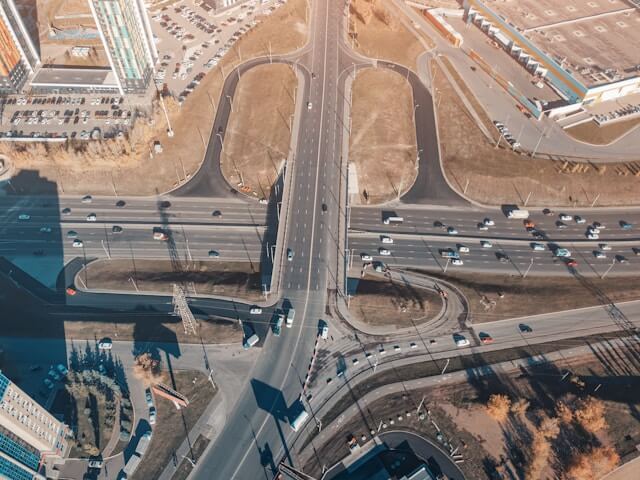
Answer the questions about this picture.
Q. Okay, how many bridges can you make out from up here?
1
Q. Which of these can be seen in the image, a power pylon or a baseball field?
power pylon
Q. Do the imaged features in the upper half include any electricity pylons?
No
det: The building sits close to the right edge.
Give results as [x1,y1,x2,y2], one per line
[457,0,640,101]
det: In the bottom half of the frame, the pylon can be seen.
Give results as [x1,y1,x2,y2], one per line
[166,277,196,337]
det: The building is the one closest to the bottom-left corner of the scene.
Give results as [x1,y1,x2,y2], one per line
[0,372,75,480]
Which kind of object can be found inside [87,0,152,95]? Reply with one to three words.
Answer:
building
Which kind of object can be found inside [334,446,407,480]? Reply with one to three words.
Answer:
building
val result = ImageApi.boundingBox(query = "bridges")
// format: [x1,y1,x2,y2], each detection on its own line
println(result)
[268,161,347,289]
